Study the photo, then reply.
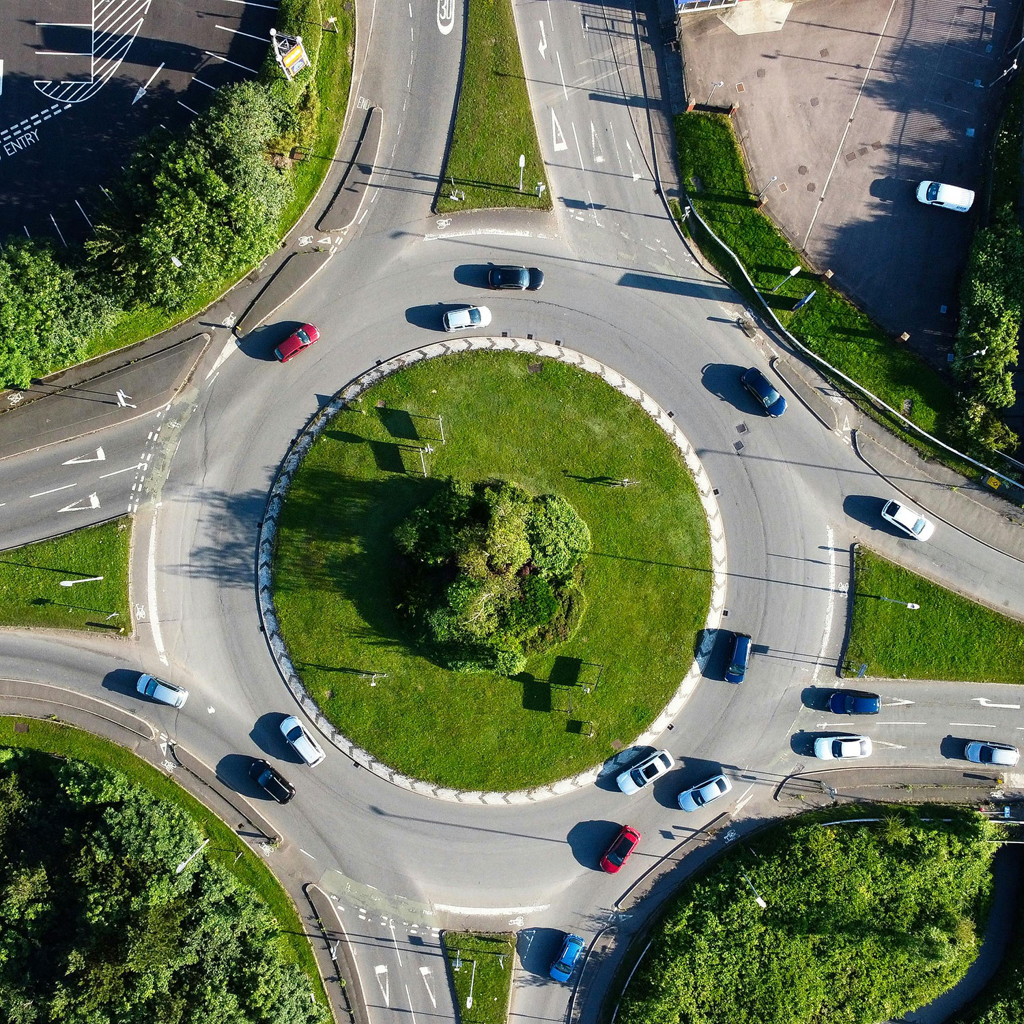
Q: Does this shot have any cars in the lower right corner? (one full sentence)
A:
Yes, you'll find a car in the lower right corner.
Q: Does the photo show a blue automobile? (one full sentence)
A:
Yes, the photo shows a blue automobile.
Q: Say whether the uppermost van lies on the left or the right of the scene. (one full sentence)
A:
You can find the uppermost van on the right side of the picture.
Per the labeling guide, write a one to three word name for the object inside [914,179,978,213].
van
